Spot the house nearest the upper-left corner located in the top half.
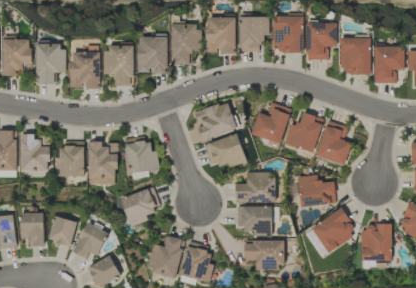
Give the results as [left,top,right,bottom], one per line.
[1,34,32,76]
